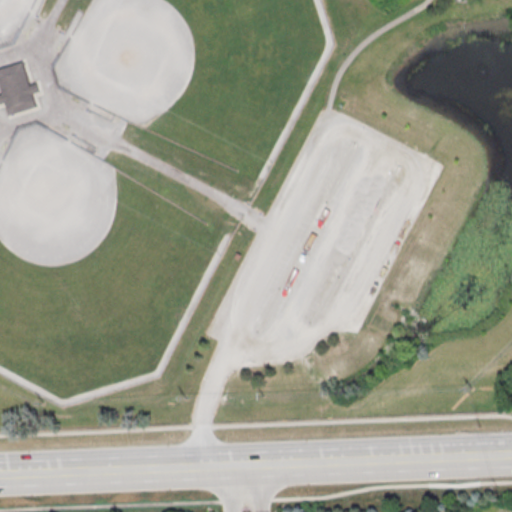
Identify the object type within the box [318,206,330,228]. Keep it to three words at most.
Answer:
vehicle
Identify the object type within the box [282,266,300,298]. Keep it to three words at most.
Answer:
vehicle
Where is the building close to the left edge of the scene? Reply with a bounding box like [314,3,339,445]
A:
[0,60,42,118]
